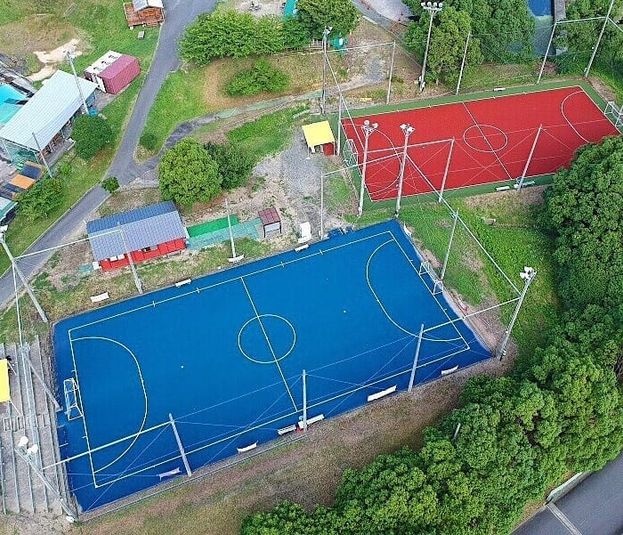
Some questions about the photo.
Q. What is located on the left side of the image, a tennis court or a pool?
pool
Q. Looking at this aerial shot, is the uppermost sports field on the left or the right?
right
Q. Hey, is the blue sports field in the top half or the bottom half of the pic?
bottom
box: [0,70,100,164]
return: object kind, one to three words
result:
building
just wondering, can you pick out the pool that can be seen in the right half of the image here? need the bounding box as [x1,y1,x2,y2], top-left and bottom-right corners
[526,0,553,20]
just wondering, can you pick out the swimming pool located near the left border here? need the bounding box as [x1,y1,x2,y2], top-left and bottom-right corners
[0,93,25,125]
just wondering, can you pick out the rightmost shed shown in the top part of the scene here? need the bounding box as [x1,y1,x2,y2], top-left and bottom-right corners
[303,121,335,161]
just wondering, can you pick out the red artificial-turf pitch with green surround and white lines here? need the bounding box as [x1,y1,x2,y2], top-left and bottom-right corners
[321,77,623,215]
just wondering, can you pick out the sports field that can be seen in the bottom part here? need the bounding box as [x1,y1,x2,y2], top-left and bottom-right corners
[50,219,495,516]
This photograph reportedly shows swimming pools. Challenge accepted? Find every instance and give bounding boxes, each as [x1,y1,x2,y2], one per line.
[0,93,25,125]
[526,0,553,20]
